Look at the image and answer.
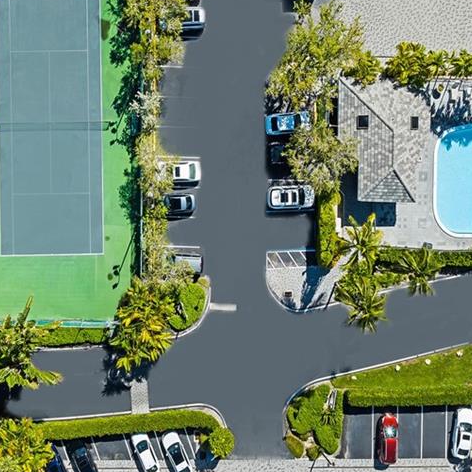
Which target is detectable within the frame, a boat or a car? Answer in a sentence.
Visible in the photo is a car.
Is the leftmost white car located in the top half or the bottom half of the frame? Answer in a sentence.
It is in the bottom half that the leftmost white car appears.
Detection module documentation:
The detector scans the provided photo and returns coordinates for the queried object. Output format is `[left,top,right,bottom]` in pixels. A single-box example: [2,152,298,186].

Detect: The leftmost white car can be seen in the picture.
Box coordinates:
[131,437,161,472]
